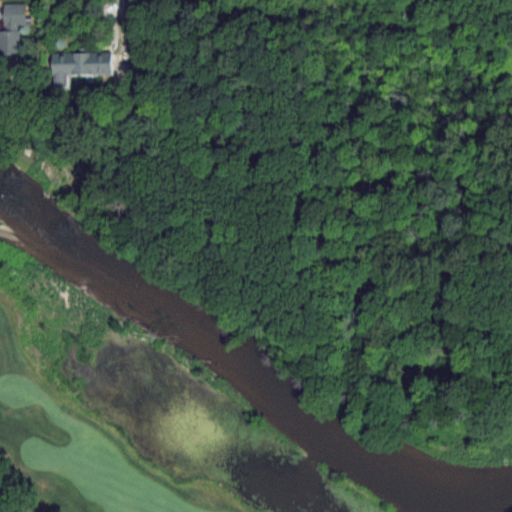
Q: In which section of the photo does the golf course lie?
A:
bottom left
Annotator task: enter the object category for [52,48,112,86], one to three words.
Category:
house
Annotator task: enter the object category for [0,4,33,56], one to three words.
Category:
house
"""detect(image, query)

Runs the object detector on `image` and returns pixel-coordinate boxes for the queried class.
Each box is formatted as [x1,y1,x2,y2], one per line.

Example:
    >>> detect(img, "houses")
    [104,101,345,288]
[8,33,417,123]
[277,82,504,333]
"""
[0,4,33,56]
[52,48,112,86]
